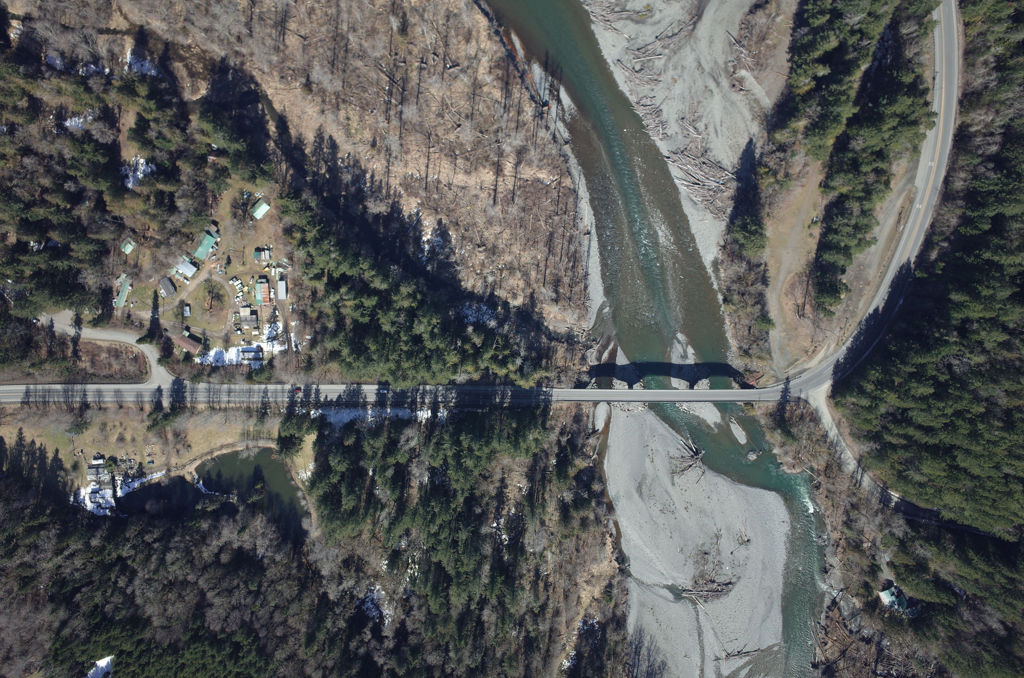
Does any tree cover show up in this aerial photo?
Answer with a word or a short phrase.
Yes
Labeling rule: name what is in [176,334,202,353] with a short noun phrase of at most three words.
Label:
house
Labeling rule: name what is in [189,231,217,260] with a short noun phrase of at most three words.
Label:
building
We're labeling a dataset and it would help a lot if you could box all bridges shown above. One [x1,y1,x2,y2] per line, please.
[575,384,742,402]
